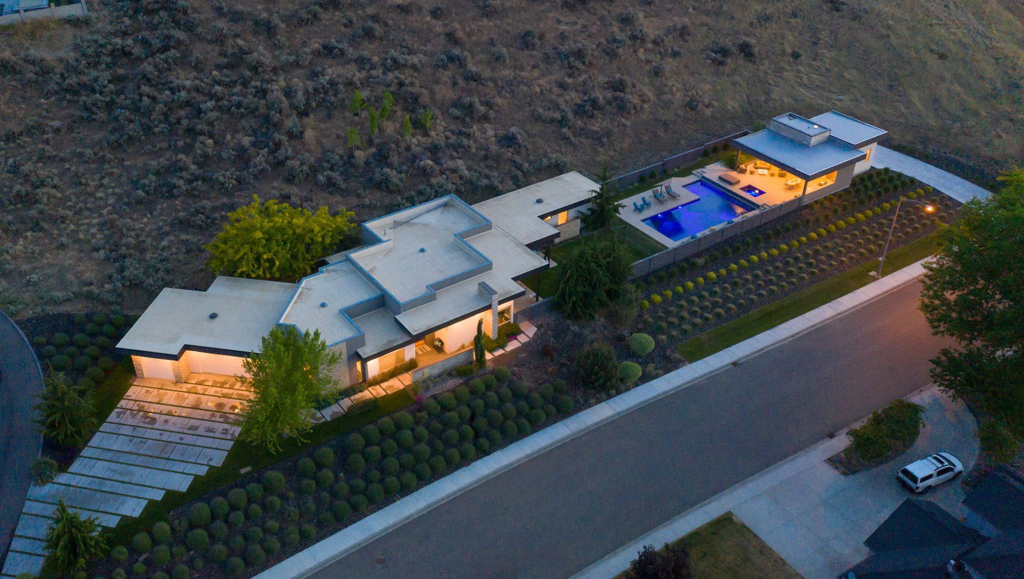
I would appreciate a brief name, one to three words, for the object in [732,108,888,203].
building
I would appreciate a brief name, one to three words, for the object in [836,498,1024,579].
house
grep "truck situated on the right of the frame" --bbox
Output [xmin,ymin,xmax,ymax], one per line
[897,453,964,493]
